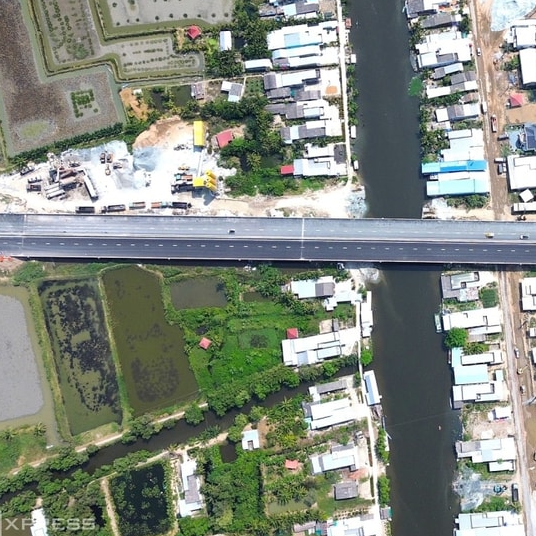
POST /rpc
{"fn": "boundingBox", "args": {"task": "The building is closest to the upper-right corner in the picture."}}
[506,19,536,49]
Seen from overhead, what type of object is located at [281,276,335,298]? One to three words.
house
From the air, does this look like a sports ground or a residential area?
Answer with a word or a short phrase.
residential area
